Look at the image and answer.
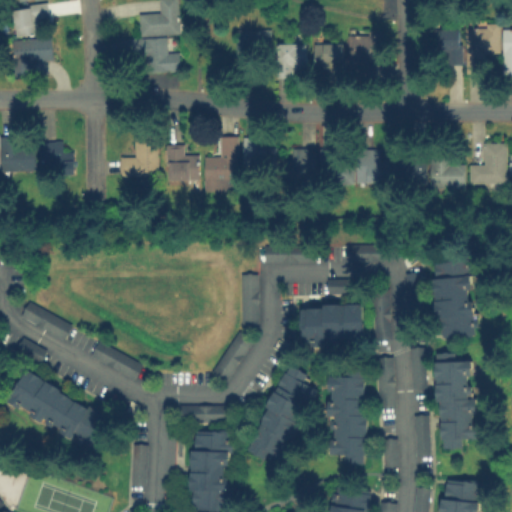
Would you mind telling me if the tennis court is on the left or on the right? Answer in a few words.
left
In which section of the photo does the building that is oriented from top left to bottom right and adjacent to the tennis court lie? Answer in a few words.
bottom left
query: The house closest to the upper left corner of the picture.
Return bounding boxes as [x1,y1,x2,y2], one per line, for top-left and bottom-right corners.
[12,4,50,38]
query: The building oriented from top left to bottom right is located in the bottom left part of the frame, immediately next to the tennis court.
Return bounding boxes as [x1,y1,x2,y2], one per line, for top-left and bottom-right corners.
[8,372,96,442]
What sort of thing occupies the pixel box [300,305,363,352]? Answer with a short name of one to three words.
building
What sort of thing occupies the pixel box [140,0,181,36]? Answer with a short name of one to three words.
house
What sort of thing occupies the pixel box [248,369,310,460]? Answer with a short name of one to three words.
building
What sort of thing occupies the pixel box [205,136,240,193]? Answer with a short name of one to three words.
house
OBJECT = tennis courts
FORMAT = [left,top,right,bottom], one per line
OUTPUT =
[18,470,113,512]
